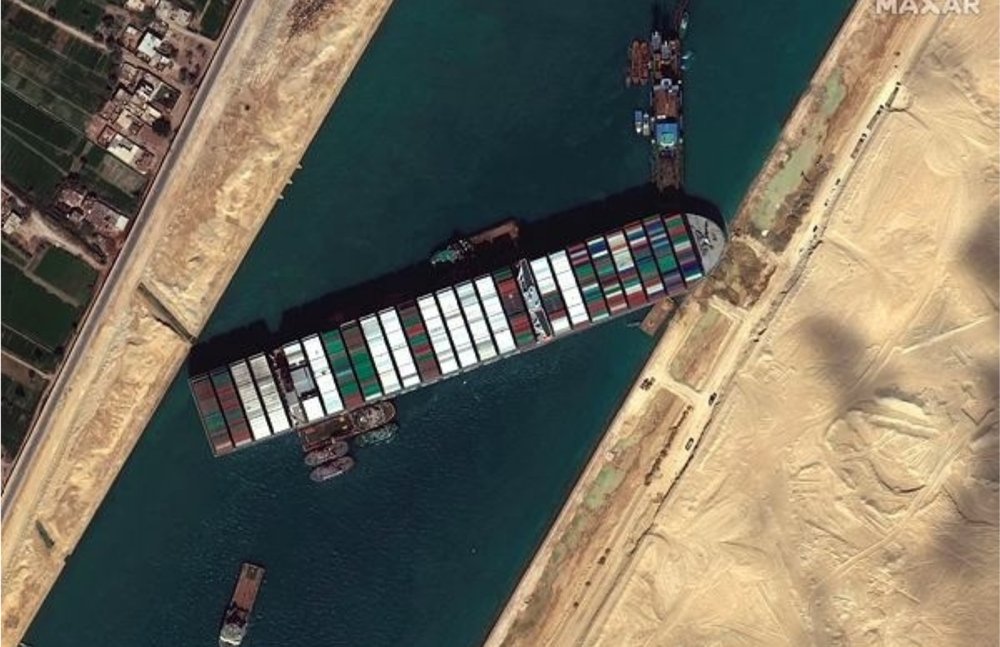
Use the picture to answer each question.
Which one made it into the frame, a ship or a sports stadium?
ship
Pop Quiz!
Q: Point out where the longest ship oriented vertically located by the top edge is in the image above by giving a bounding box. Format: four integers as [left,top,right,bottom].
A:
[649,30,684,187]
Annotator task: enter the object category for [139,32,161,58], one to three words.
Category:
house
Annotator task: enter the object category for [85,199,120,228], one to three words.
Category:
house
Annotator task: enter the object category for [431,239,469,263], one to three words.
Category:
boat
